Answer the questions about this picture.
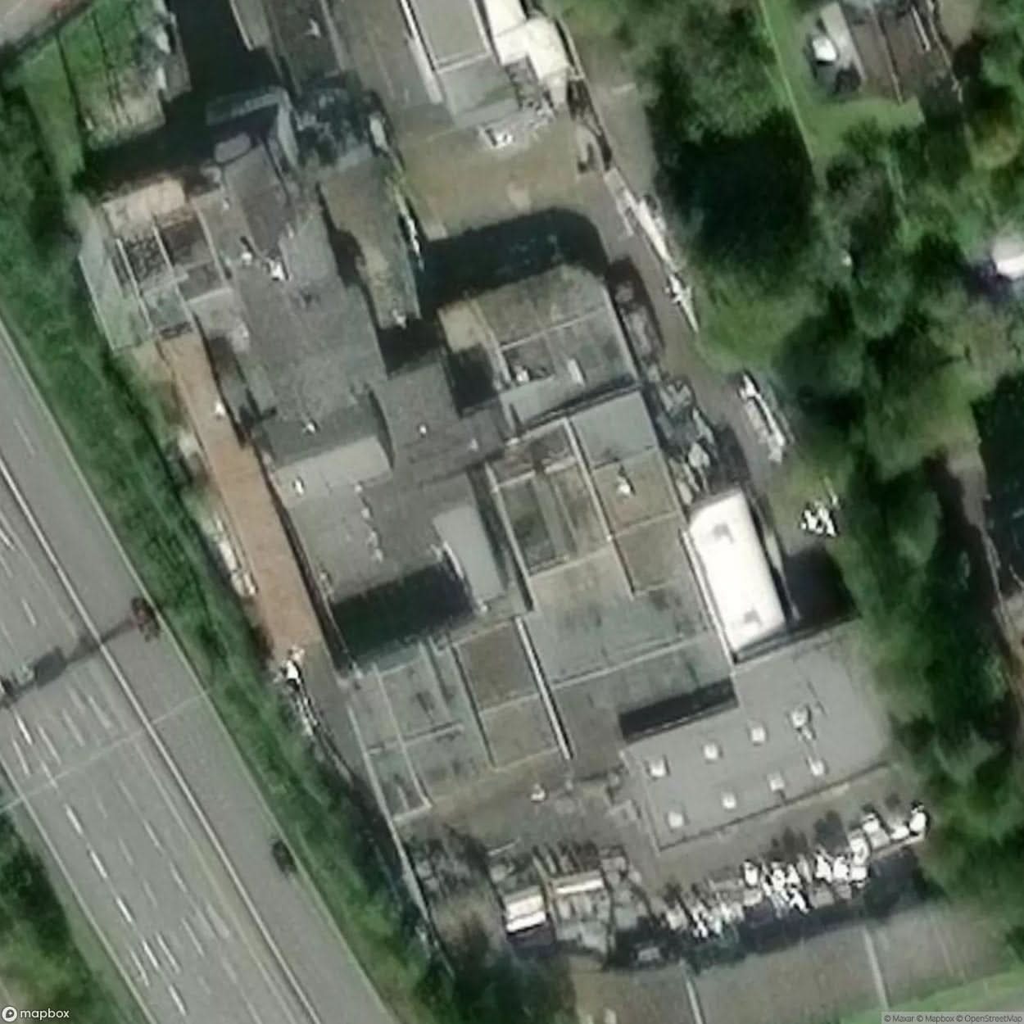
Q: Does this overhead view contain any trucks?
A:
Yes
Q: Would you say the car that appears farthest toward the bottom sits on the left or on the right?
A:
left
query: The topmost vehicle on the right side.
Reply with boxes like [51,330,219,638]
[810,35,838,67]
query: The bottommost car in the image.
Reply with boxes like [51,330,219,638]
[268,838,297,874]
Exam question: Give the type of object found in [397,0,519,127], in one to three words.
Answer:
building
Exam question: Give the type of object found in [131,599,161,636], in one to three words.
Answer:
car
